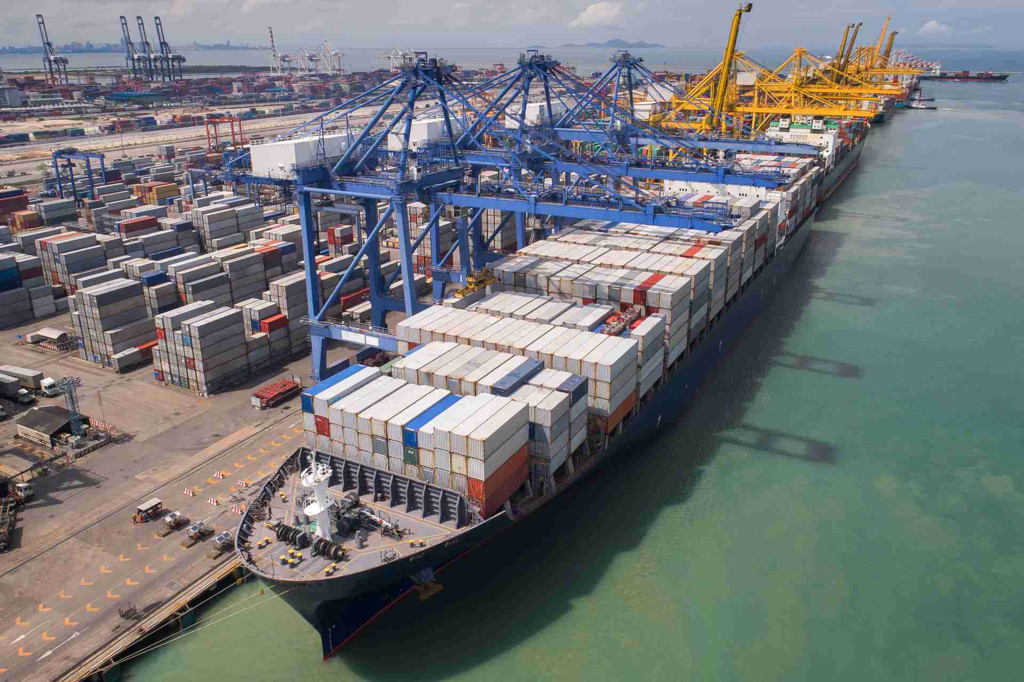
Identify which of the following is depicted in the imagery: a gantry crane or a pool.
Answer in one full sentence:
Of the two, only a gantry crane appears.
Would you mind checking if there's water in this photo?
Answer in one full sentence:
Yes, some water is visible.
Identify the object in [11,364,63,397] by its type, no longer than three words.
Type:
truck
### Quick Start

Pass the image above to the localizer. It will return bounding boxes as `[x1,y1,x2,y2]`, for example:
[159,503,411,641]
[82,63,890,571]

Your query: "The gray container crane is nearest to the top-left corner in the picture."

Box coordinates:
[36,15,72,86]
